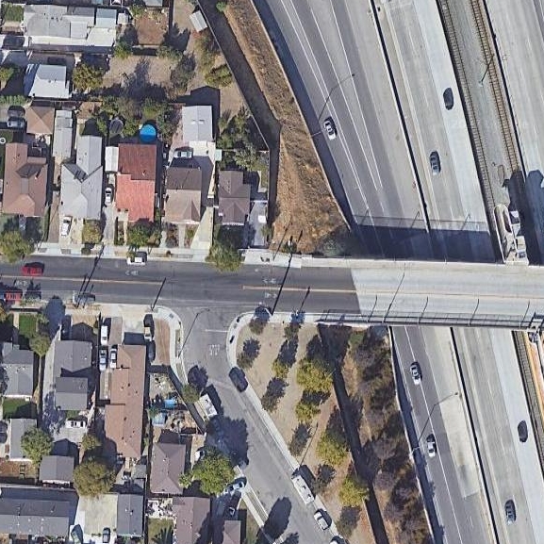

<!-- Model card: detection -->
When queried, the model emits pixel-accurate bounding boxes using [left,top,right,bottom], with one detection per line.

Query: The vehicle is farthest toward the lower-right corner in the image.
[504,499,516,522]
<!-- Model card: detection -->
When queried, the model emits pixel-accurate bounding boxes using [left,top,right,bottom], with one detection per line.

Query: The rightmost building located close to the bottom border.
[215,520,242,544]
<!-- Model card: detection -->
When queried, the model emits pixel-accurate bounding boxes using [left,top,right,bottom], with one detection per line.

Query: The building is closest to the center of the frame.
[218,170,250,224]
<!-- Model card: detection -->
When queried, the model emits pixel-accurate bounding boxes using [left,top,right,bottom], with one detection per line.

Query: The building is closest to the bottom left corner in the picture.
[0,485,70,534]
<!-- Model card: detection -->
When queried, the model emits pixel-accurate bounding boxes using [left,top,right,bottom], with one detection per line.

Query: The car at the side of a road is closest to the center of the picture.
[230,366,247,389]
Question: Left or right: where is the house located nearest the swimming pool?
left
